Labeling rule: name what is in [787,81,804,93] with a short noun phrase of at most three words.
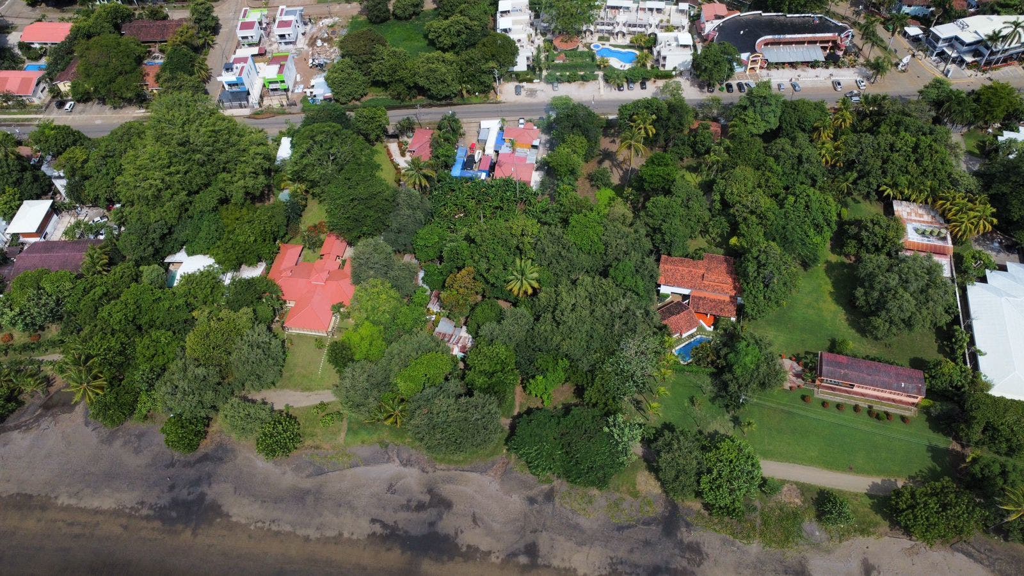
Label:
vehicle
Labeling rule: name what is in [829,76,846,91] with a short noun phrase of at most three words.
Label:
car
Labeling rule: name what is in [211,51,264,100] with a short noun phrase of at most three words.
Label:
house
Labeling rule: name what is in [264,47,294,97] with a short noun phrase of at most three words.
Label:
house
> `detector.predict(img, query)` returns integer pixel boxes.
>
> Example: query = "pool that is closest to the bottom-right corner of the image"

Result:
[673,335,714,359]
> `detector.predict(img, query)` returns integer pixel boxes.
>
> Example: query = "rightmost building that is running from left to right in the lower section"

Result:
[812,350,925,407]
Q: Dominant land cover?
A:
trees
